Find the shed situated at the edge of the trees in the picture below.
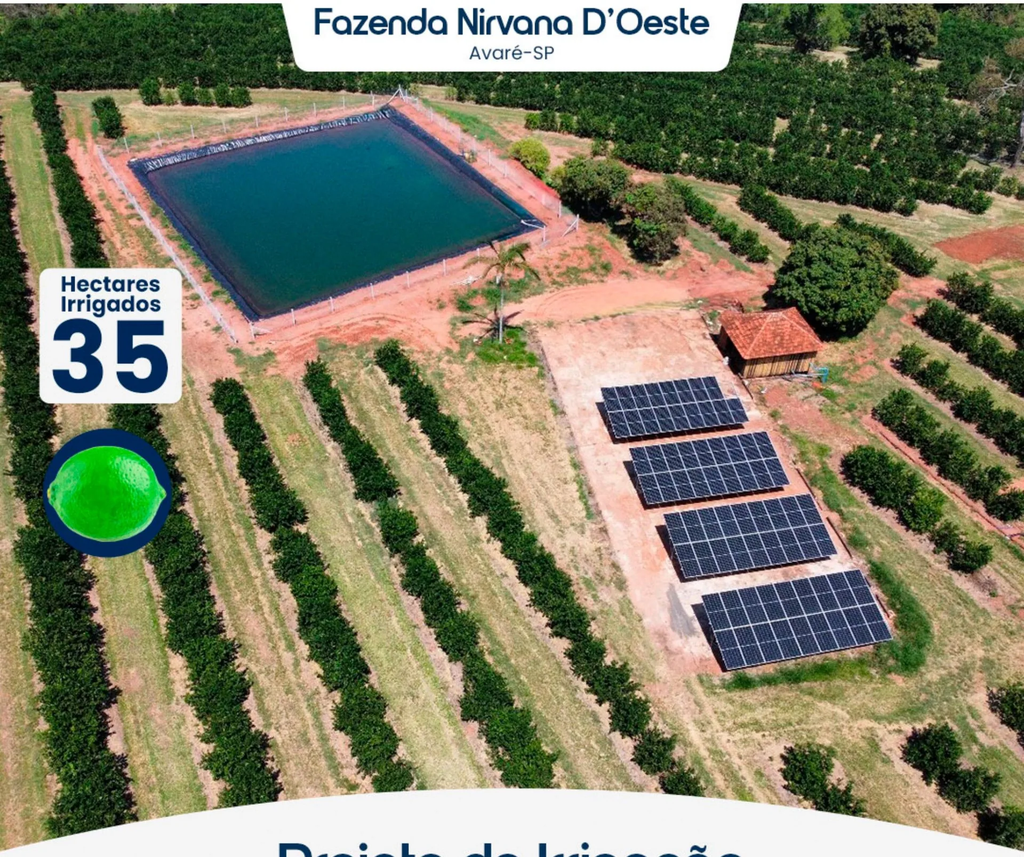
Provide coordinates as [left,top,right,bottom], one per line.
[719,307,828,377]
